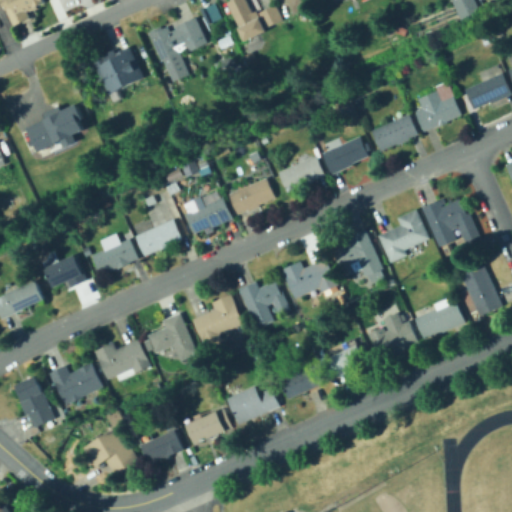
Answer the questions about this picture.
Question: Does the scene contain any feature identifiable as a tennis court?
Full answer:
No, there's no tennis court here.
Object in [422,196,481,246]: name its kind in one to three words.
house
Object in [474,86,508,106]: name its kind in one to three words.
solar panel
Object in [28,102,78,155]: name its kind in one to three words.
house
